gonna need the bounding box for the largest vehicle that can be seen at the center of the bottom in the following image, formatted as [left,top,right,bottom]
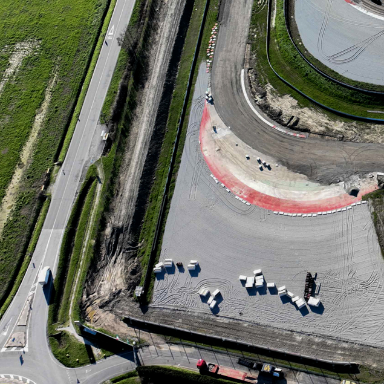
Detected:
[188,352,255,383]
